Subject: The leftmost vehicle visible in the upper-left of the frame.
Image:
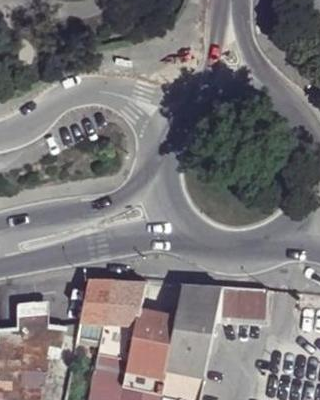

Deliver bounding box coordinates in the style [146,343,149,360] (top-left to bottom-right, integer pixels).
[19,101,37,115]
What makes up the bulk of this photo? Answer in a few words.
paved ground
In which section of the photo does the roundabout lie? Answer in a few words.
right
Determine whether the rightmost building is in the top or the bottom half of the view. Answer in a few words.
bottom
